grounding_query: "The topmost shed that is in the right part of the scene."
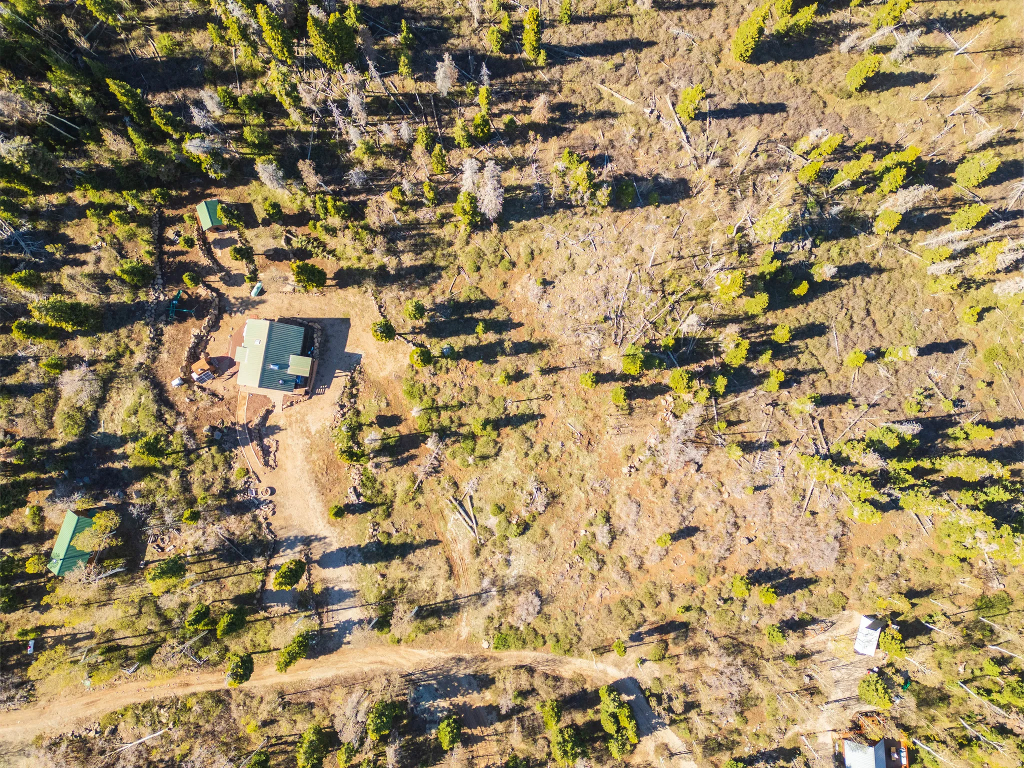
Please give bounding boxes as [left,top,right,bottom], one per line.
[850,613,887,654]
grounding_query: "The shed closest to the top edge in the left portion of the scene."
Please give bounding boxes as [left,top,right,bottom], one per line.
[196,200,230,233]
